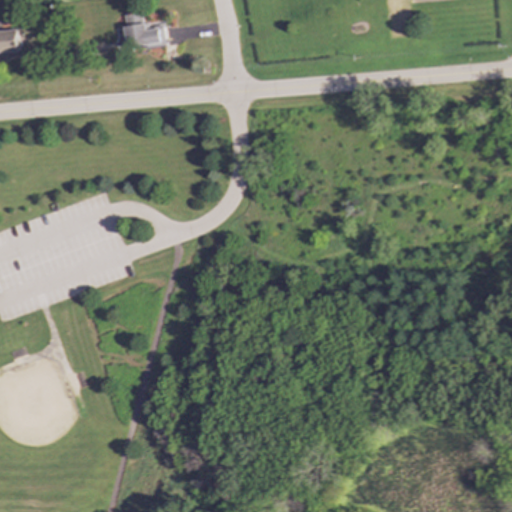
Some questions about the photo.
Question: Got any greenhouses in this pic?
No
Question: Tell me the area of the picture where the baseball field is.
bottom left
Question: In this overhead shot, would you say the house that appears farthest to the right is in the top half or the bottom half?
top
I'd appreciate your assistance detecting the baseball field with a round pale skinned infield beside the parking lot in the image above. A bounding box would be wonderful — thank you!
[0,358,126,512]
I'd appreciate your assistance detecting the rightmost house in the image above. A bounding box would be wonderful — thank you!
[124,13,164,46]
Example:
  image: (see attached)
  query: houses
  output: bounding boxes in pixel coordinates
[124,13,164,46]
[0,29,23,52]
